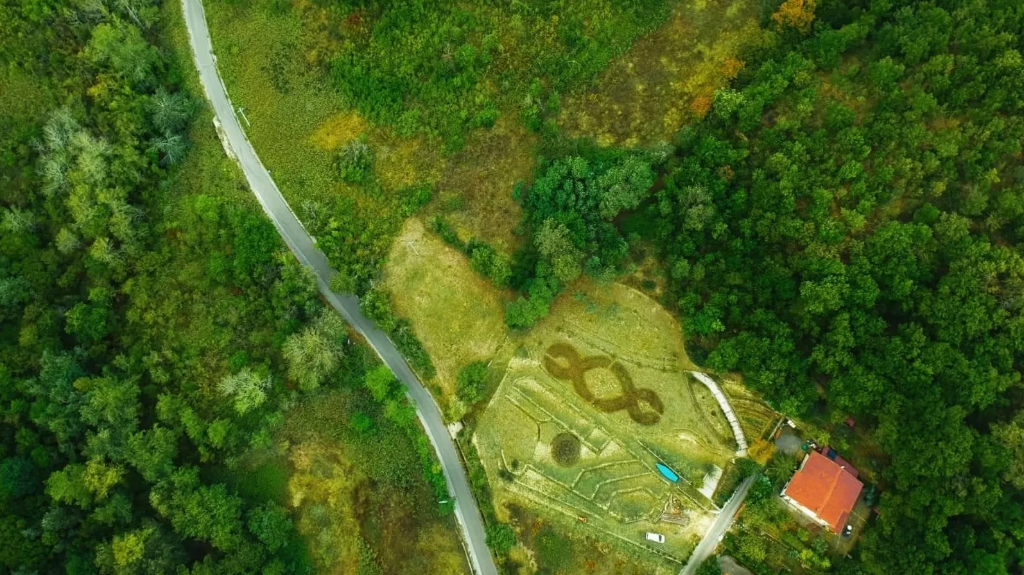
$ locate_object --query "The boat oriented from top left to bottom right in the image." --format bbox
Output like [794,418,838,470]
[656,464,678,483]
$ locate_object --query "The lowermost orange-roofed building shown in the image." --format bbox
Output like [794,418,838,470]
[776,445,863,531]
